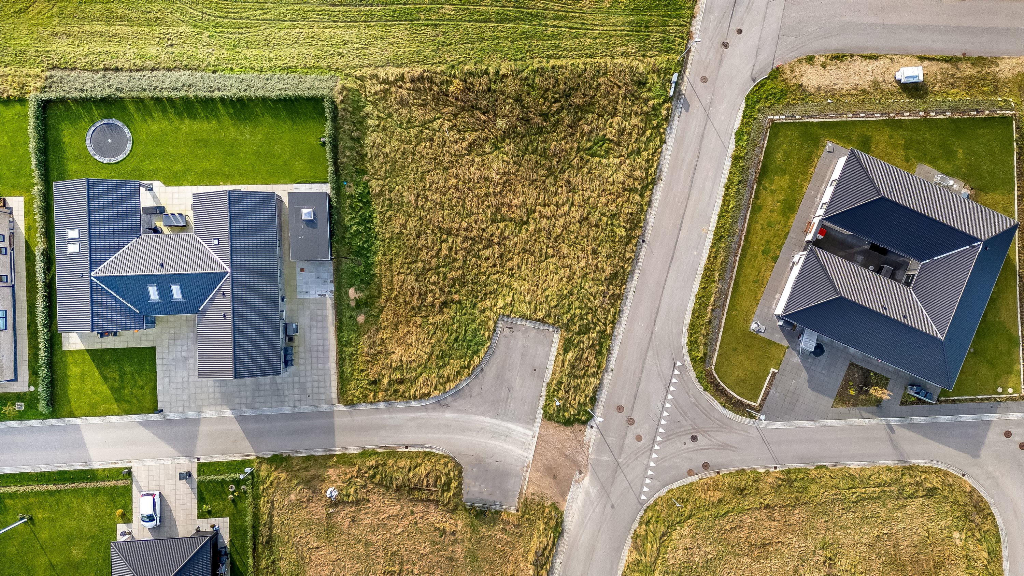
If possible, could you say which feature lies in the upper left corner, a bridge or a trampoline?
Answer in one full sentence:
It is a trampoline that can be seen in the upper left corner.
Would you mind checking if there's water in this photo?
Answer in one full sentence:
No, water can't be seen anywhere here.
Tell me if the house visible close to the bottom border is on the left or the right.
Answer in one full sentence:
The house visible close to the bottom border appears in the left half of the scene.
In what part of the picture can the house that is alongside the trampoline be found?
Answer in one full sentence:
The house that is alongside the trampoline sits in the left section of the image.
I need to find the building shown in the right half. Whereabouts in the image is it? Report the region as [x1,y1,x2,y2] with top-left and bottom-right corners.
[775,148,1024,391]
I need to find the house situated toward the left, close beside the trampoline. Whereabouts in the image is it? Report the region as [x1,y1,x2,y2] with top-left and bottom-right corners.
[56,178,285,379]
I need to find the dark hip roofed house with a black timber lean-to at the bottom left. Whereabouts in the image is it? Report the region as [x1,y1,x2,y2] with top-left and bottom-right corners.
[110,527,218,576]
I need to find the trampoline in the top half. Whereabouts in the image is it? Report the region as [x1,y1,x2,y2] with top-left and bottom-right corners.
[85,117,132,163]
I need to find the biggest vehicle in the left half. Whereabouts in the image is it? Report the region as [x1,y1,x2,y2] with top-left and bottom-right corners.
[137,490,162,527]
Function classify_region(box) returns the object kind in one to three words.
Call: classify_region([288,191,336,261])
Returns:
building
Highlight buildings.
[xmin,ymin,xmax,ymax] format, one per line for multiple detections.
[110,527,218,576]
[775,148,1024,391]
[0,211,16,382]
[56,178,285,379]
[288,191,336,261]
